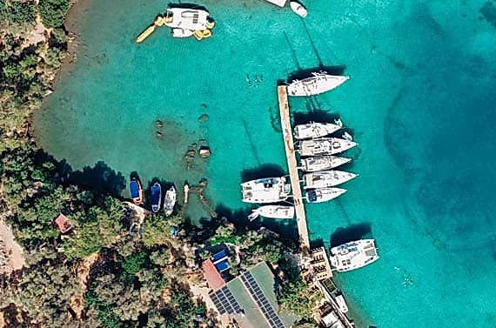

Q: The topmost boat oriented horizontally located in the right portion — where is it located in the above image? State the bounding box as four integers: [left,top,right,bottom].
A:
[286,73,349,98]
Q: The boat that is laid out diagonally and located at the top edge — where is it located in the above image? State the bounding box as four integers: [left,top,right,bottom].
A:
[290,2,308,19]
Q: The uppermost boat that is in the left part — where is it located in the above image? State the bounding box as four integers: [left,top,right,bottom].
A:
[164,8,210,29]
